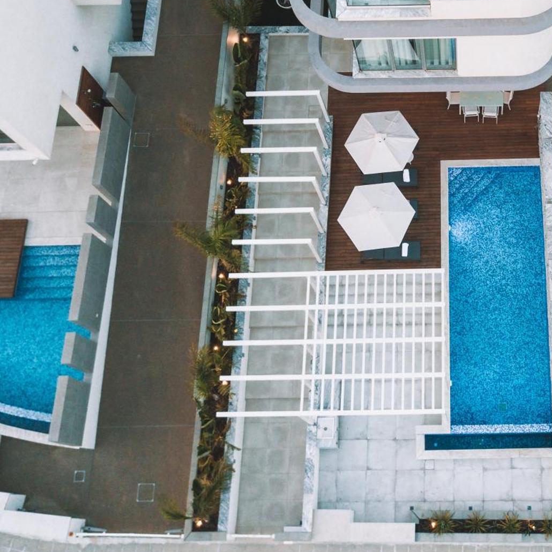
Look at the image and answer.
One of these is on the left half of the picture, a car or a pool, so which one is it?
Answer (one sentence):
The one visible on the left half of the picture is a pool.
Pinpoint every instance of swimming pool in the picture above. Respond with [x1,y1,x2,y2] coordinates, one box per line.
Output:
[416,159,552,459]
[0,235,106,447]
